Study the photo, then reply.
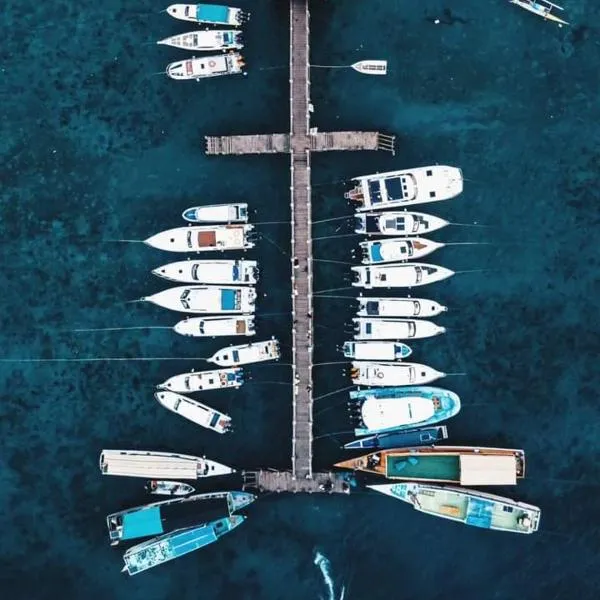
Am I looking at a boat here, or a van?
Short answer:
boat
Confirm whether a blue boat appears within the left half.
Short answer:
Yes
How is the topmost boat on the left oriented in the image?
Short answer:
from left to right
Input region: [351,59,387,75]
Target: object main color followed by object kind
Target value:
white boat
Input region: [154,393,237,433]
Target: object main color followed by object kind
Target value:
white boat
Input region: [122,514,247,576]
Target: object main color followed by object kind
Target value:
blue boat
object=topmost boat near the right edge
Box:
[504,0,571,25]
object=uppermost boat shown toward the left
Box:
[166,1,252,29]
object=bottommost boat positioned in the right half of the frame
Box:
[365,482,541,533]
